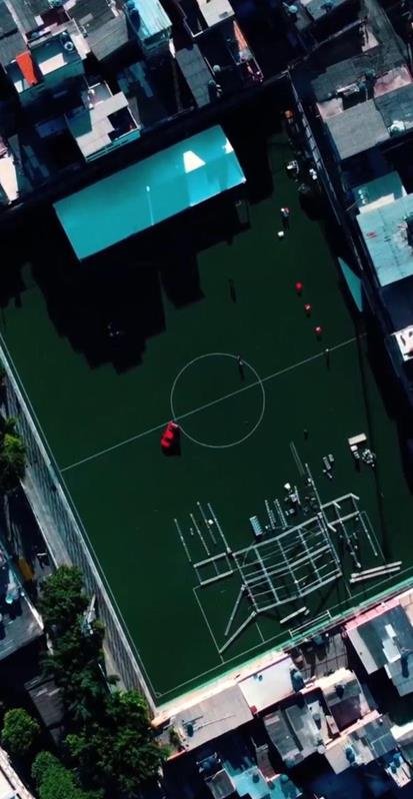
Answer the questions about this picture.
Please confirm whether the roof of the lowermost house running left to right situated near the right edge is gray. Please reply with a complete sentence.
No, the roof of the lowermost house running left to right situated near the right edge is actually black.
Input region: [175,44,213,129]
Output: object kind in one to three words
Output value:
house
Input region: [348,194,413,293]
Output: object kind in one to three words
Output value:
house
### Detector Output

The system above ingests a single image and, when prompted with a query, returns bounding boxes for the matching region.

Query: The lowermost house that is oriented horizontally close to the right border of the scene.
[300,756,400,799]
